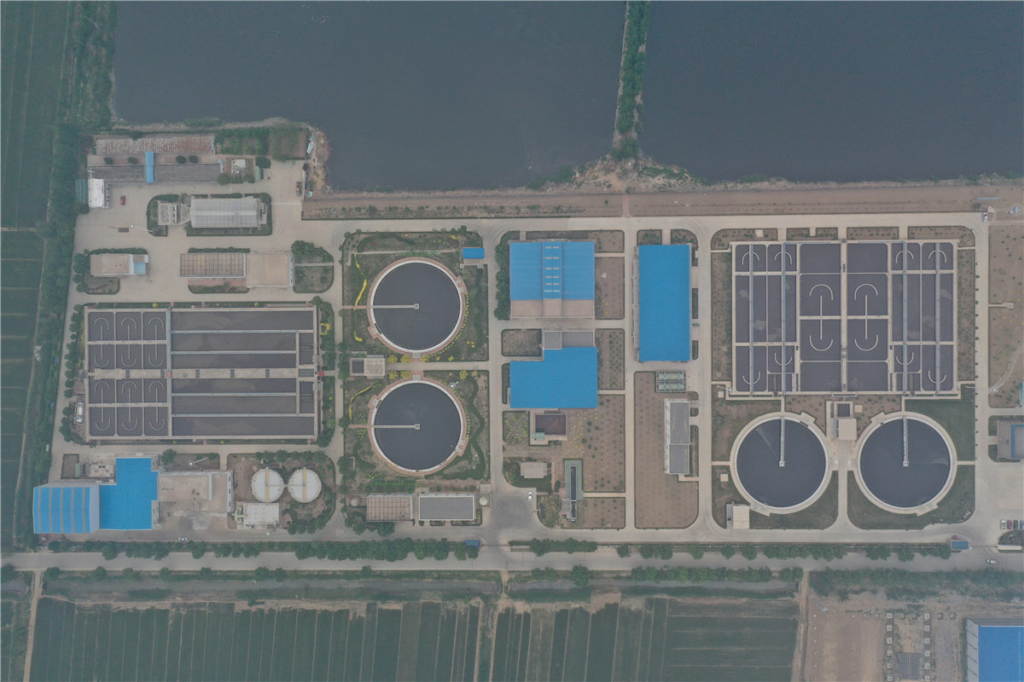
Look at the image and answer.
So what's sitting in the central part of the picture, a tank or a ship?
tank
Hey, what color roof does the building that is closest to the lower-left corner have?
blue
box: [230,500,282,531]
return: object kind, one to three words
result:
house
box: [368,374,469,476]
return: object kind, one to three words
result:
storage tank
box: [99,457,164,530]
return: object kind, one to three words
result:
building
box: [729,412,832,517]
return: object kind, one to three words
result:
storage tank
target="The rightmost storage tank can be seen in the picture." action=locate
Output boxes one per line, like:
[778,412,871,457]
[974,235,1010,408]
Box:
[853,411,957,516]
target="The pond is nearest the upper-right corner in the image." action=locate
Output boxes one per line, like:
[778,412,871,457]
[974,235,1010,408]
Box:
[641,0,1024,182]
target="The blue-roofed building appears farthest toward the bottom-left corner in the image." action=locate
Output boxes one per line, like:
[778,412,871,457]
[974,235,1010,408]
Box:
[31,483,103,533]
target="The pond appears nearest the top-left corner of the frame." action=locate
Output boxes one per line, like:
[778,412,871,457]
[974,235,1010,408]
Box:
[114,0,625,190]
